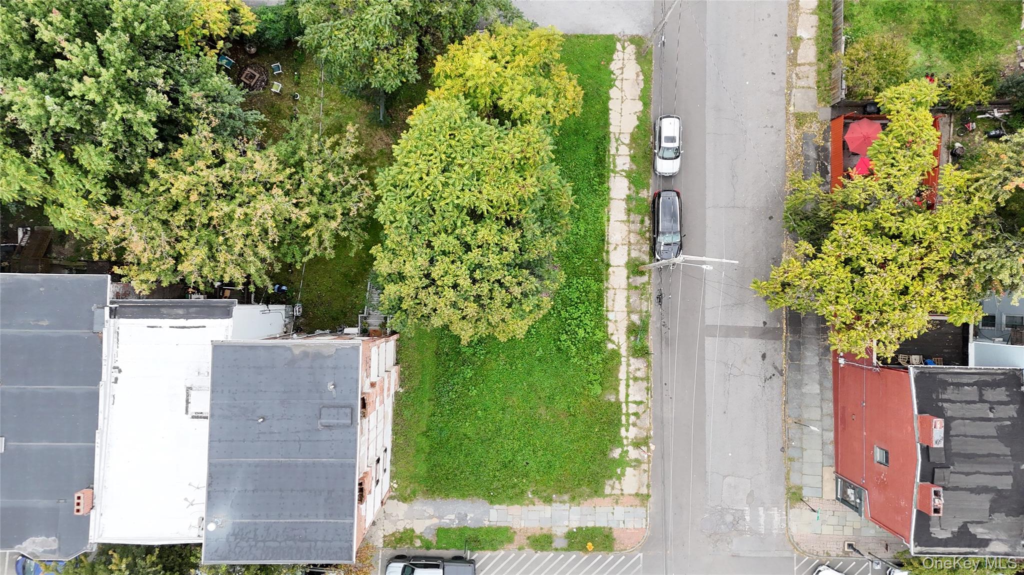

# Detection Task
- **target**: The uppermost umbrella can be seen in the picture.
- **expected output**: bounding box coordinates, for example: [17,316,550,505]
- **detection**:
[842,119,879,156]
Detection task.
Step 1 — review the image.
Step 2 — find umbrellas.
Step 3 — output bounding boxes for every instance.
[845,155,874,181]
[842,119,879,156]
